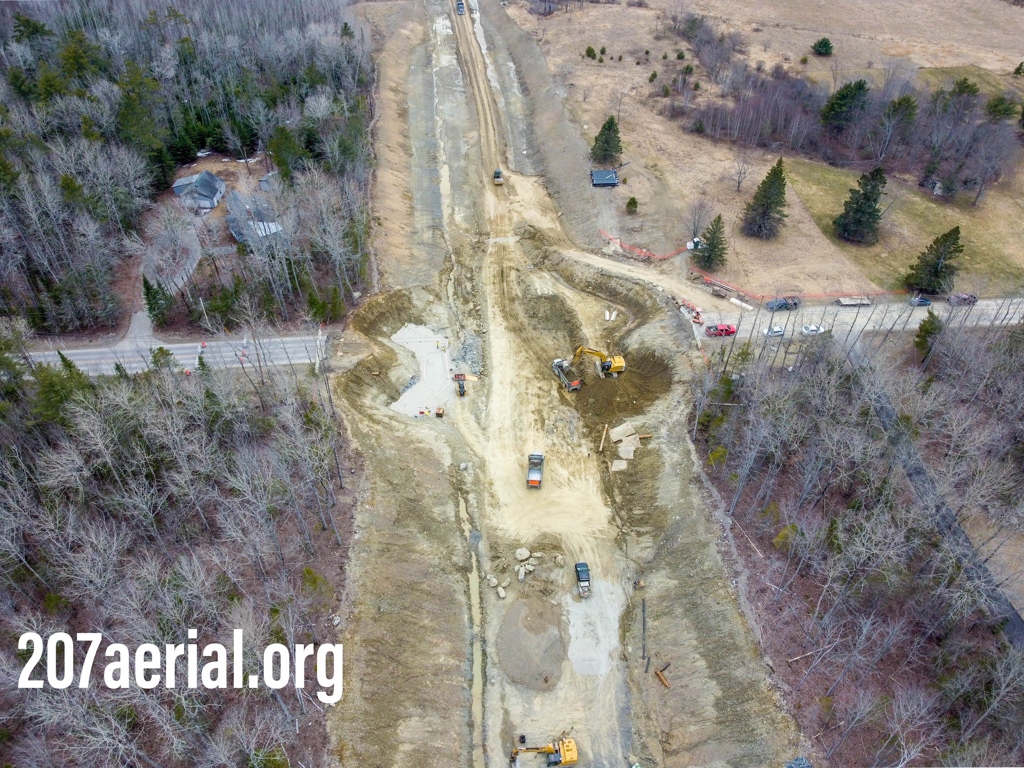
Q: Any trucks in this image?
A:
Yes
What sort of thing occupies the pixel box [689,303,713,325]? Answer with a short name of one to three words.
work vehicle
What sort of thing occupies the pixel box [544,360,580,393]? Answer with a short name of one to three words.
truck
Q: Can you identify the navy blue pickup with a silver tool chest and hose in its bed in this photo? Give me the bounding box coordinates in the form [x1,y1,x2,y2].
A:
[575,560,593,596]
